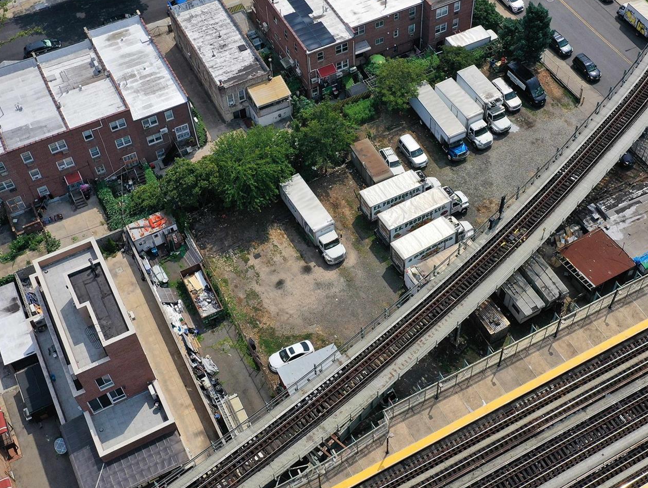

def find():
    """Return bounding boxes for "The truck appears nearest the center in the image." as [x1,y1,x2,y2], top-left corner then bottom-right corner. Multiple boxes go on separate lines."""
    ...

[280,175,350,268]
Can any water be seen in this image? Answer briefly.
No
